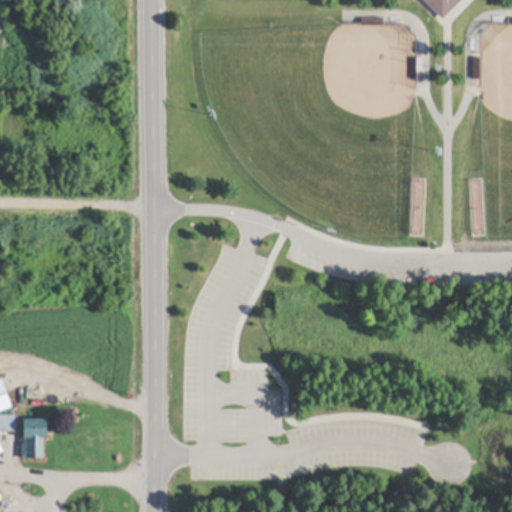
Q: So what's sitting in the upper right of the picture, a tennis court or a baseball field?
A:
baseball field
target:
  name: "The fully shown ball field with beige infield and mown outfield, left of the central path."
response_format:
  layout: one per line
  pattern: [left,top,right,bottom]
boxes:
[200,24,416,245]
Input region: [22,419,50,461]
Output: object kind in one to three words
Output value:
house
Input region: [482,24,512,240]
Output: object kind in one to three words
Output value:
baseball field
